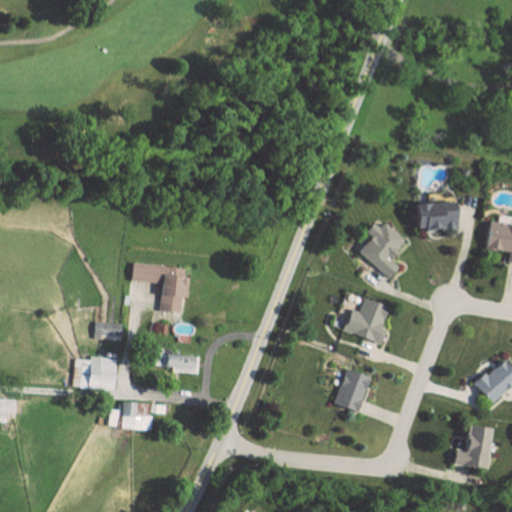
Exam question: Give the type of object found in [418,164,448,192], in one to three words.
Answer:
swimming pool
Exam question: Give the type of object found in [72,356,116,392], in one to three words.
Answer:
barn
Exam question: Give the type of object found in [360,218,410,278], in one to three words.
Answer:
house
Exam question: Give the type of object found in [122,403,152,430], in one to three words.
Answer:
building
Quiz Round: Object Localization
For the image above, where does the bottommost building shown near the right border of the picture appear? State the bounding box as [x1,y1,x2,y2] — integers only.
[454,425,498,470]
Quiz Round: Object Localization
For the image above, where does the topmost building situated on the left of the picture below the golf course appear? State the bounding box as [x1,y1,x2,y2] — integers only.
[131,262,190,313]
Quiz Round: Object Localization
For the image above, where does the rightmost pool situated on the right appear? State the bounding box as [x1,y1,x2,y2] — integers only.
[492,190,512,210]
